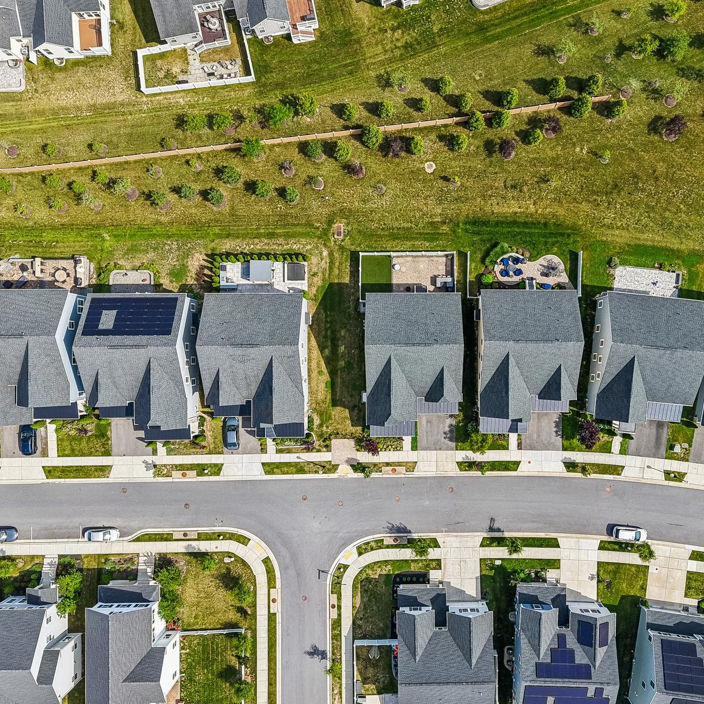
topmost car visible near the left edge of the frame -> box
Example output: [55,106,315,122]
[16,424,34,456]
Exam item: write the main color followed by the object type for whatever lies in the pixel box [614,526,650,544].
white car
